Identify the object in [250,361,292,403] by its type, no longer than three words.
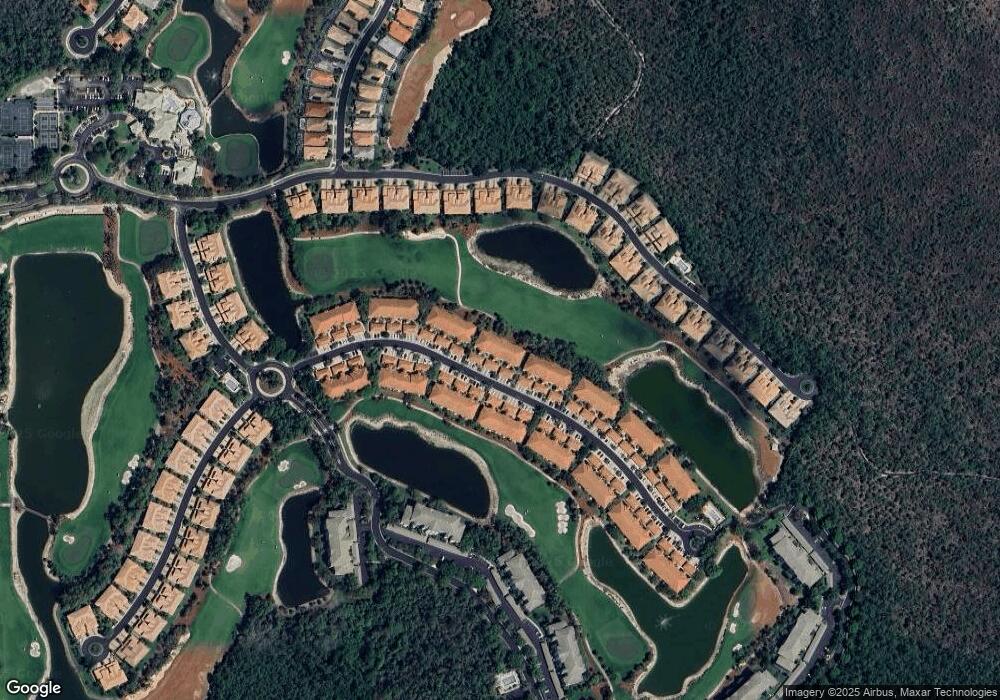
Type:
roundabout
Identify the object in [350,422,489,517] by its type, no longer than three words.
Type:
pond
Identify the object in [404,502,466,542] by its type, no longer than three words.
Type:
building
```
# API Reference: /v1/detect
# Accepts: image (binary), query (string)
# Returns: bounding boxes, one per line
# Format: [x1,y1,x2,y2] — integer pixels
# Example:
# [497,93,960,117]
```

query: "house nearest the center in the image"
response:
[471,330,525,378]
